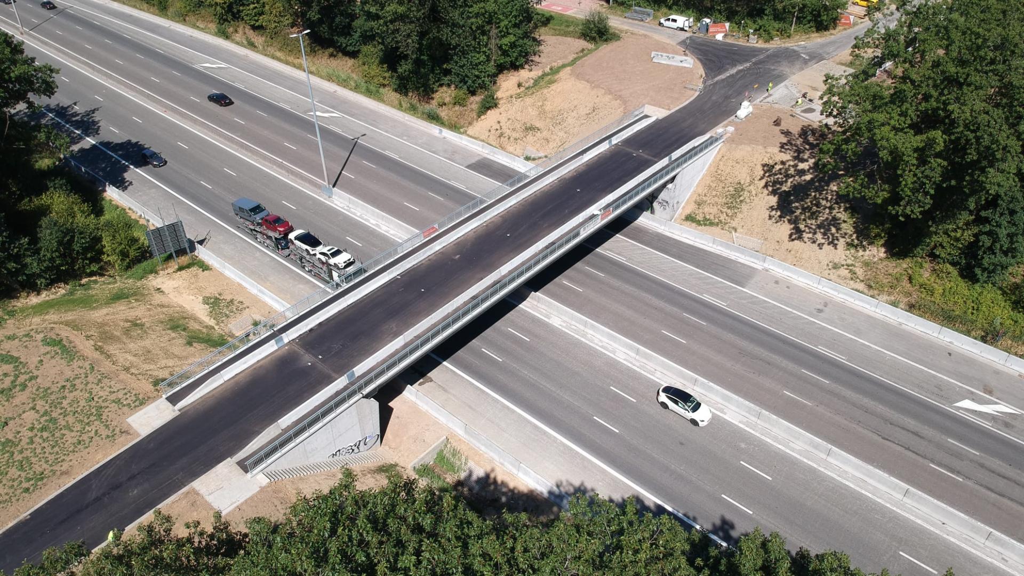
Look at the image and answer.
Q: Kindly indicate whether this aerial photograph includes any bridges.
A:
Yes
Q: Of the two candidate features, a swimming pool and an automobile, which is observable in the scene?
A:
automobile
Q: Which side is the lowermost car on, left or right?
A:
right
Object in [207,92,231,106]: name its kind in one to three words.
car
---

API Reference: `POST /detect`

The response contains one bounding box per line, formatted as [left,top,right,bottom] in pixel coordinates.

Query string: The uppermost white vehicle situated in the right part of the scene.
[657,13,694,30]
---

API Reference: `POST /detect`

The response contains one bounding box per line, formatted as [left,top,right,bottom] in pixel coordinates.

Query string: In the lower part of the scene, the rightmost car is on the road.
[657,387,714,427]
